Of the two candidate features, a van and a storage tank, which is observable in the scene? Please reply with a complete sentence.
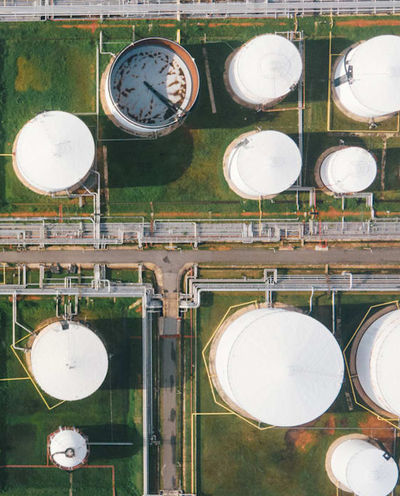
It is a storage tank that can be seen here.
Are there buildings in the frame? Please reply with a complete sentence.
No, the frame has no building in it.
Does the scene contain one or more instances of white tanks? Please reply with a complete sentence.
Yes, the photo shows a white tank.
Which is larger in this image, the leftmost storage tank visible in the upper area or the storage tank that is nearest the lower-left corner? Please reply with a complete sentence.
It is the leftmost storage tank visible in the upper area that is larger, not the storage tank that is nearest the lower-left corner.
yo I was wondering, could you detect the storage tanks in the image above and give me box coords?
[222,128,303,203]
[221,31,303,110]
[43,425,91,471]
[10,111,96,197]
[209,302,345,428]
[22,315,110,401]
[95,34,202,140]
[349,303,400,424]
[325,435,399,496]
[314,143,378,200]
[330,33,400,121]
